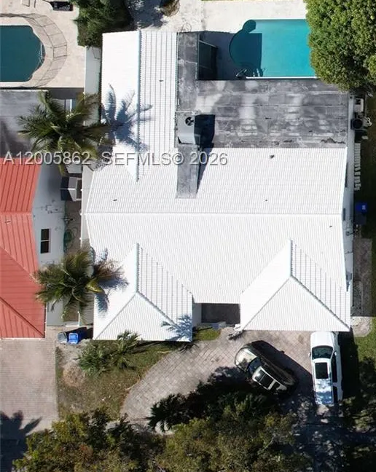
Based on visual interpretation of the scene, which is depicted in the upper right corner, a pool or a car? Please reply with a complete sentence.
You can see a pool in the upper right corner.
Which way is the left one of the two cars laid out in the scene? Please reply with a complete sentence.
In this picture, the left one of the two cars is oriented diagonally.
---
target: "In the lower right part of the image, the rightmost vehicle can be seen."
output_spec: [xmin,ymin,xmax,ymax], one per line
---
[306,331,346,406]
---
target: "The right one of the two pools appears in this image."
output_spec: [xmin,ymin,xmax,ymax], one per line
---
[228,17,330,78]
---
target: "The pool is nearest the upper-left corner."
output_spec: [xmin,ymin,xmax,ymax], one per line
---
[0,23,50,84]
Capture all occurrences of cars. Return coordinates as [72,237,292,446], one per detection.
[306,331,346,406]
[236,348,308,408]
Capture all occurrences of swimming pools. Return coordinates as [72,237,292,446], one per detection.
[228,17,330,78]
[0,23,50,84]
